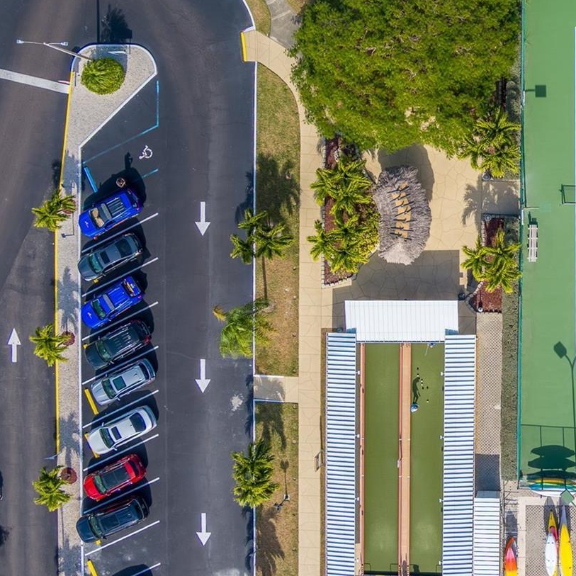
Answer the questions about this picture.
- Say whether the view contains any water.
No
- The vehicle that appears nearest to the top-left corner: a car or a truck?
car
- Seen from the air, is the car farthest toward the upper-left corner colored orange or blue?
blue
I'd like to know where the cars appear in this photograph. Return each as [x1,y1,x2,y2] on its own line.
[83,318,157,368]
[78,187,148,236]
[88,405,163,455]
[80,277,150,325]
[75,229,148,278]
[82,451,153,498]
[90,357,162,402]
[75,491,155,541]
